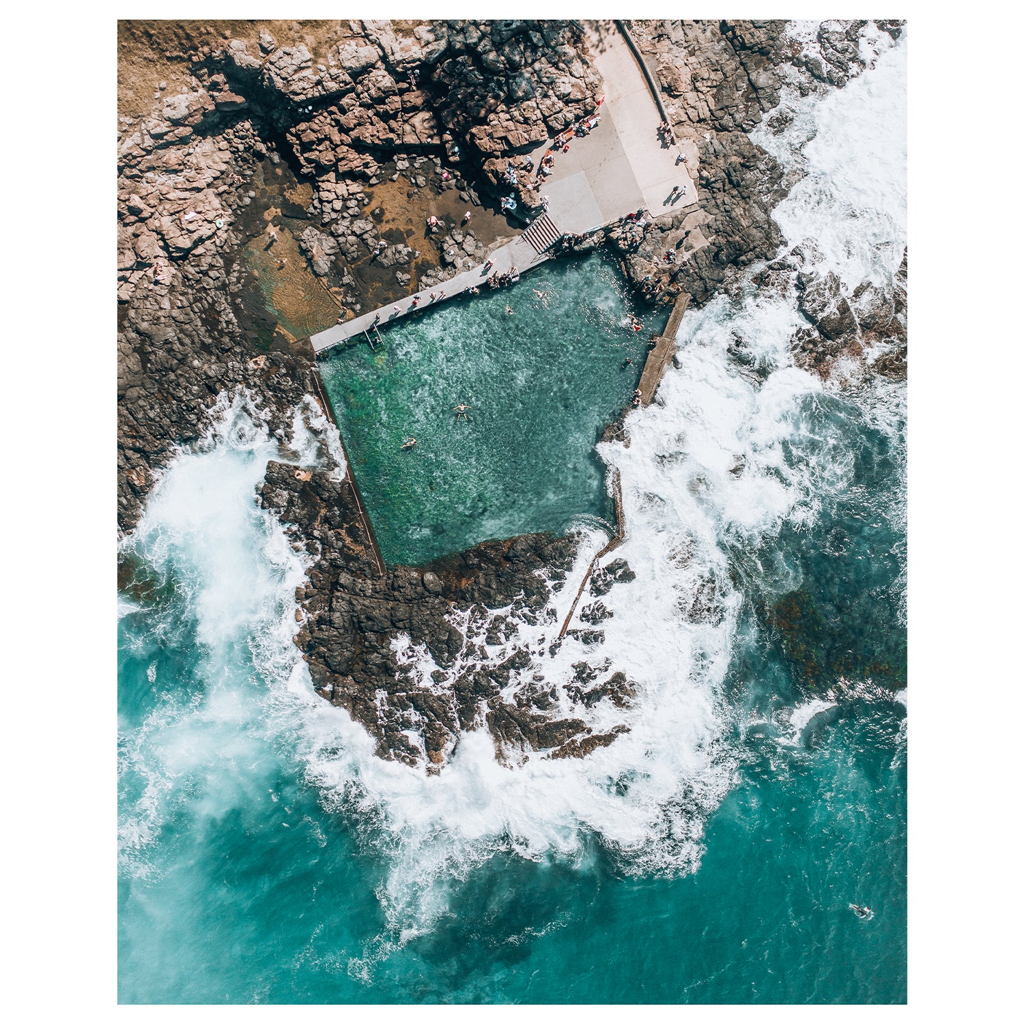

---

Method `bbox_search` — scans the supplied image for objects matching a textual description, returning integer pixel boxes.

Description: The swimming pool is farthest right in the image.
[320,246,672,569]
